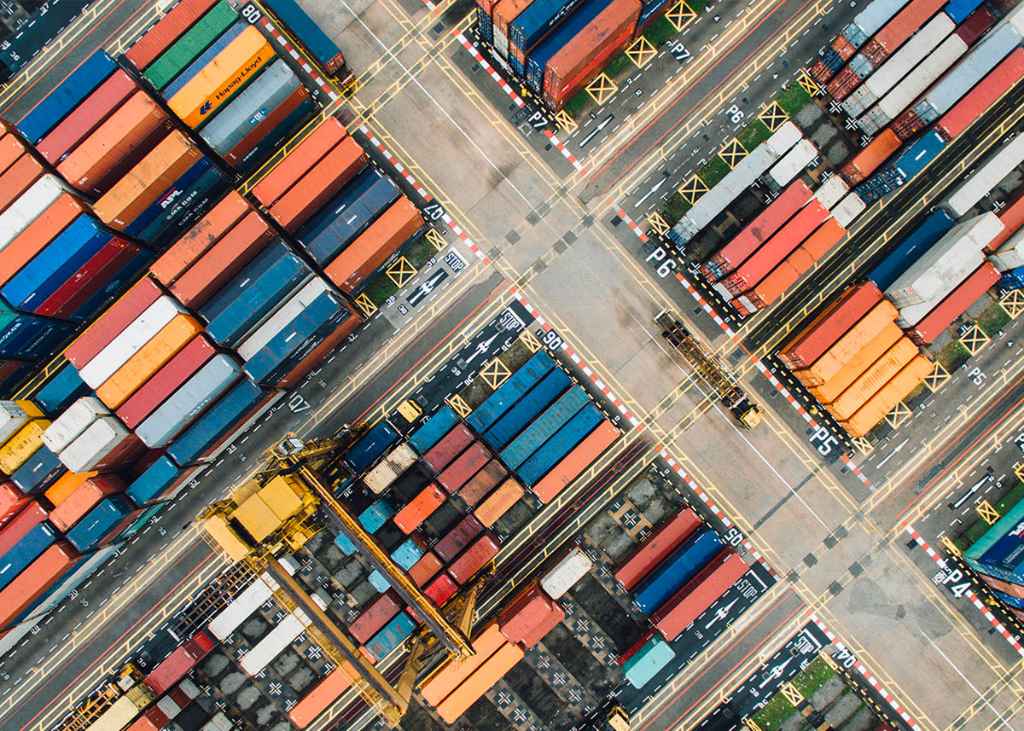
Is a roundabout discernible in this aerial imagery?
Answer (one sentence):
No, the photo shows no roundabout.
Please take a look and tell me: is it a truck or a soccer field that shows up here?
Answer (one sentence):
It is a truck that can be seen here.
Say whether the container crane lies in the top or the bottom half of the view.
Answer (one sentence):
The container crane sits in the bottom half of the picture.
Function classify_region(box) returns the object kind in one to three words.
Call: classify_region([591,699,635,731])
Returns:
truck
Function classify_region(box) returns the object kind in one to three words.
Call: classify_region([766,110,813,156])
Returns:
shipping container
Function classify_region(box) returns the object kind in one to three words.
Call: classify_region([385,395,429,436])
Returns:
truck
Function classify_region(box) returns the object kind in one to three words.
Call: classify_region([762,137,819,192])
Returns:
shipping container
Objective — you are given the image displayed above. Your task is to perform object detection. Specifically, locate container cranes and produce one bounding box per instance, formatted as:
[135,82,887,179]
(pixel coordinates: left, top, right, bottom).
[198,421,493,731]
